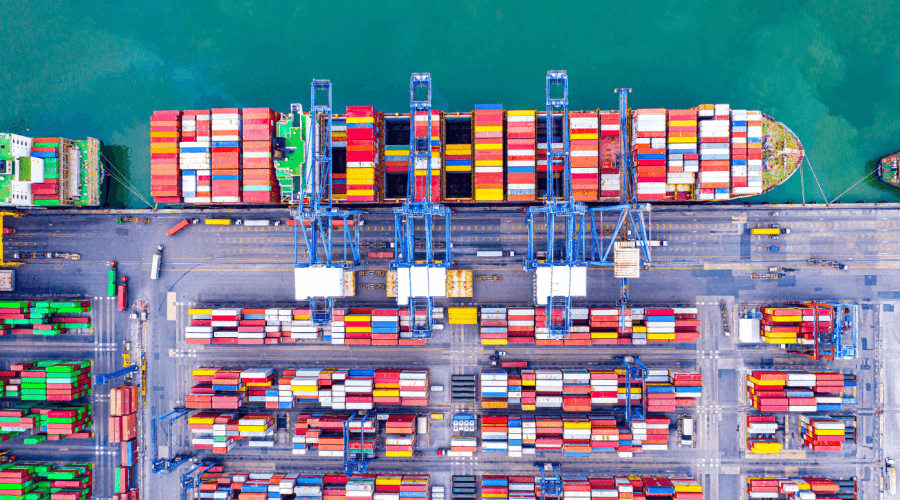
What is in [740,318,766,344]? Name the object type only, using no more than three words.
building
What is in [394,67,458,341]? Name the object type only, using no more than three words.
container crane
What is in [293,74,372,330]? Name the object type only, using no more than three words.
container crane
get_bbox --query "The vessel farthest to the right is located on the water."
[868,154,900,193]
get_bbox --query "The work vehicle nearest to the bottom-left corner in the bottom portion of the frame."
[87,367,136,391]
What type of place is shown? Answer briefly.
port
